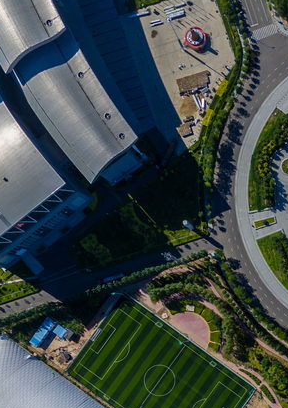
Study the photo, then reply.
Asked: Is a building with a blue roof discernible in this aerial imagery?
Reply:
Yes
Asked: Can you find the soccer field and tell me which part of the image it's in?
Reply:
bottom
